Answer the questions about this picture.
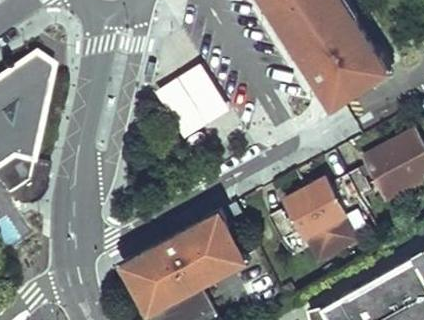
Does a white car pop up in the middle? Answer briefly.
Yes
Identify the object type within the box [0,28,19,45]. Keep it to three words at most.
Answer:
car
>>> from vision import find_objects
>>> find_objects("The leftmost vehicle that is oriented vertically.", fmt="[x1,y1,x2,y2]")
[144,56,156,82]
